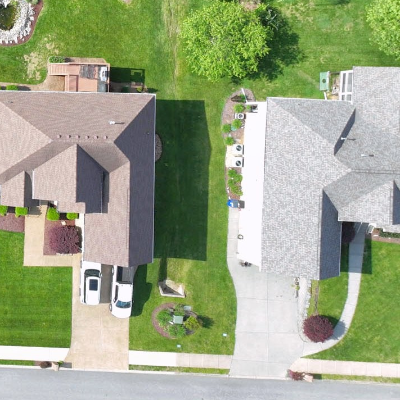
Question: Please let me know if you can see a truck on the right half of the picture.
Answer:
No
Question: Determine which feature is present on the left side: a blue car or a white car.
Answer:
white car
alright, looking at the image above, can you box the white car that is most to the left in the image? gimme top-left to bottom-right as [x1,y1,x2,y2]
[78,256,105,307]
